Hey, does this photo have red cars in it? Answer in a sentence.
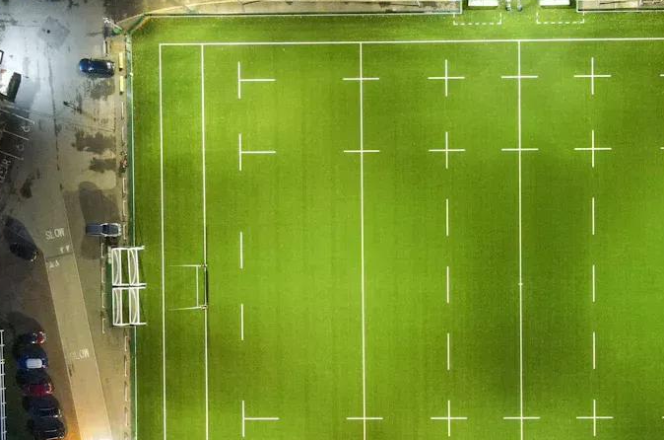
Yes, looking at the shot, I can spot a red car.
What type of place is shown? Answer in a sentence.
This looks like a sports ground.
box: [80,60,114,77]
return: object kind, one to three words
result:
car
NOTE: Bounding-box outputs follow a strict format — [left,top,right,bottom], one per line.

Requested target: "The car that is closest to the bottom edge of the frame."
[30,424,66,440]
